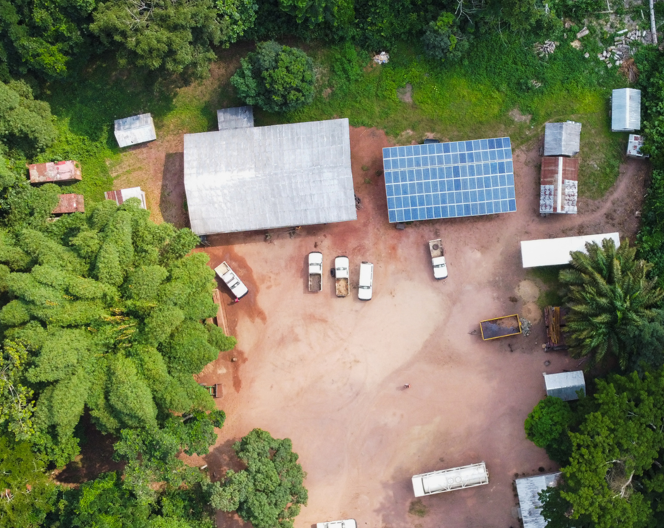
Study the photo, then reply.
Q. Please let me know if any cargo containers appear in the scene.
Yes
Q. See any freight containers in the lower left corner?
No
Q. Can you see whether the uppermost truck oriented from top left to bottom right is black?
No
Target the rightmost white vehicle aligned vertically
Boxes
[429,239,447,280]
